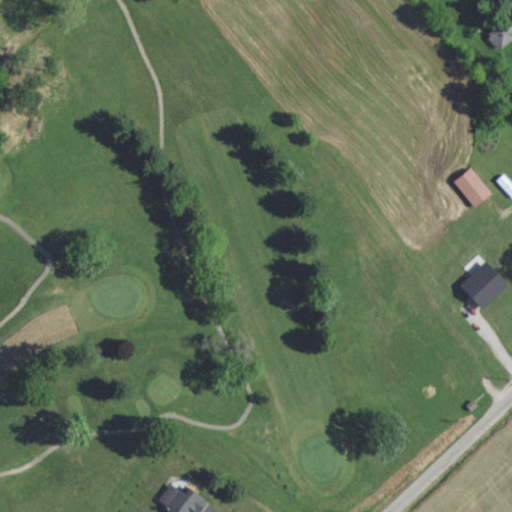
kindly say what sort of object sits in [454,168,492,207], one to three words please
barn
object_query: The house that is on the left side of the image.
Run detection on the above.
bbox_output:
[159,474,208,512]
